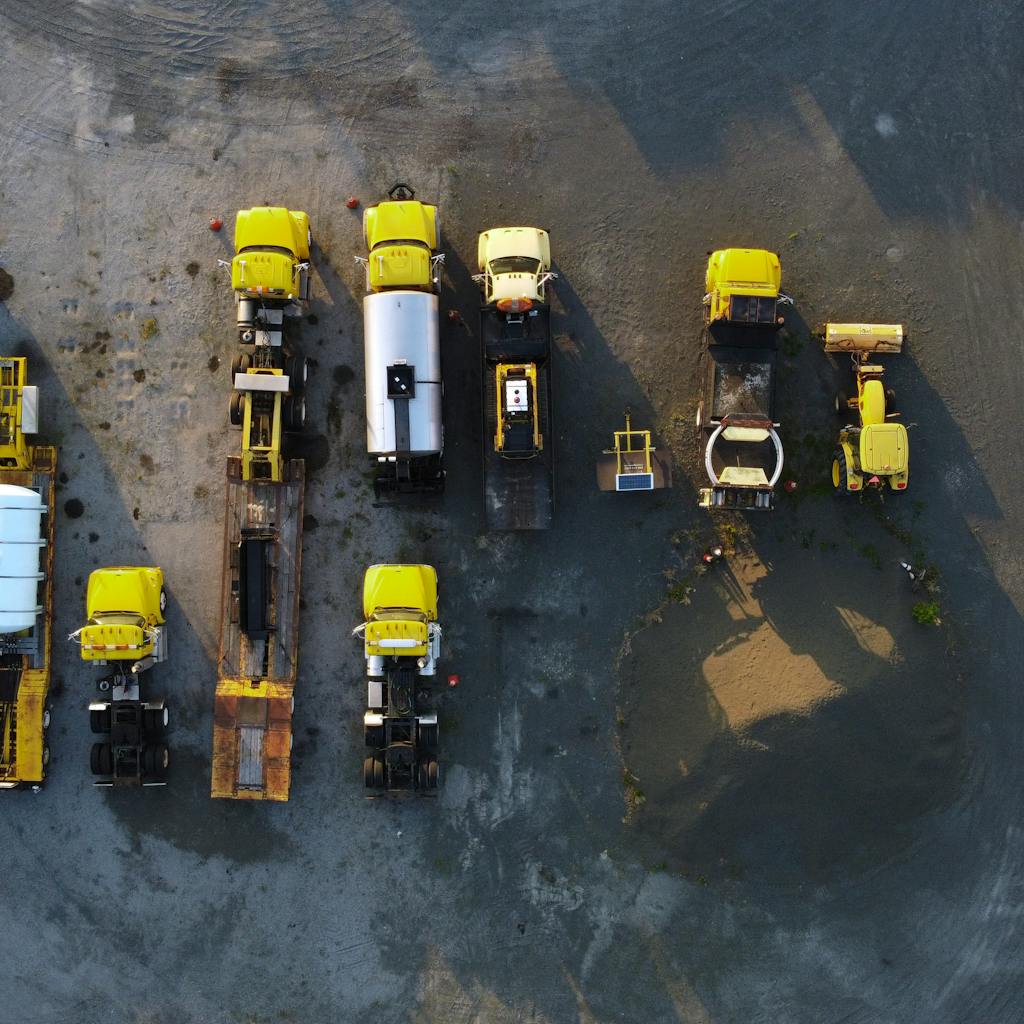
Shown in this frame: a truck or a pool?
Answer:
truck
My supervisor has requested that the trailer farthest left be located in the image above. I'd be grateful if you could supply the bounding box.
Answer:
[0,356,60,789]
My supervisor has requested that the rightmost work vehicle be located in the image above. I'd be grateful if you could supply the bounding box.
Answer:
[820,326,919,497]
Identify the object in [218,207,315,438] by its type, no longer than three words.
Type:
truck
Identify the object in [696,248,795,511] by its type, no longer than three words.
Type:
truck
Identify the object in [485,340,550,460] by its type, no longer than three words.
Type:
work vehicle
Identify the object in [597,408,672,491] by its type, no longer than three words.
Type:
trailer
